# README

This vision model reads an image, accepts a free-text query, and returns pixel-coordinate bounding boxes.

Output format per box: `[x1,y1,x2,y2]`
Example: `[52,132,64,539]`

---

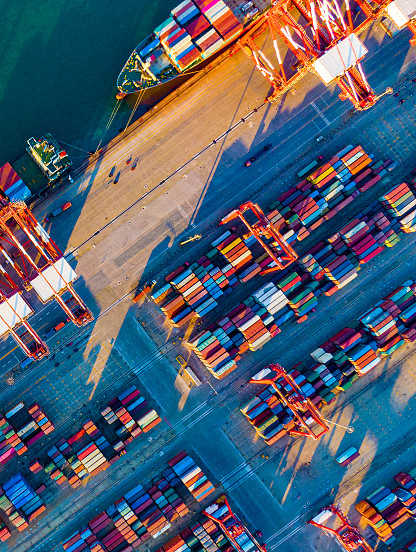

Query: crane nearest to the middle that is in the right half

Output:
[211,203,298,279]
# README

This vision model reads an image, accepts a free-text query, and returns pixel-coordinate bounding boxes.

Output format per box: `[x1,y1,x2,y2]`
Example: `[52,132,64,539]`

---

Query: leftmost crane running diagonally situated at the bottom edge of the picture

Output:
[197,491,271,552]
